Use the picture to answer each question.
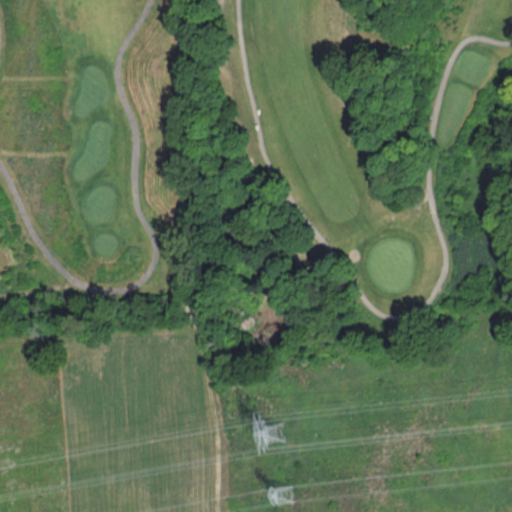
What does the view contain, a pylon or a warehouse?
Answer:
pylon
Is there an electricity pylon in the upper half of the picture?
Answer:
No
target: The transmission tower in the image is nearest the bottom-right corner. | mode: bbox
[268,486,294,508]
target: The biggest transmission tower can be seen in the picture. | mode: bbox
[253,418,286,458]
